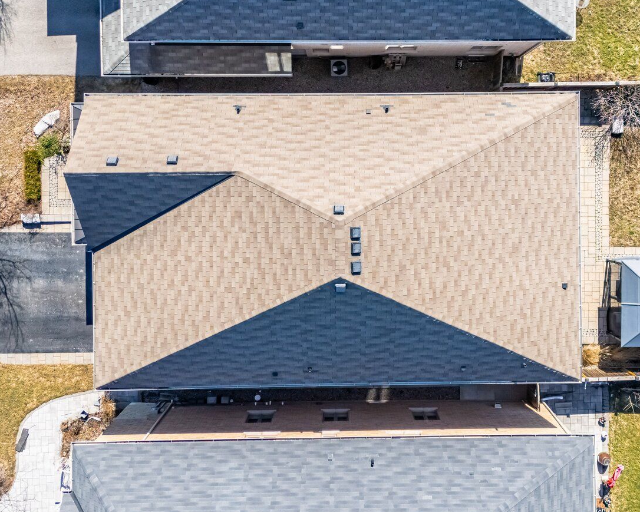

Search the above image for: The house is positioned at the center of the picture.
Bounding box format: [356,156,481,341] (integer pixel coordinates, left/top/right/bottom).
[62,88,585,394]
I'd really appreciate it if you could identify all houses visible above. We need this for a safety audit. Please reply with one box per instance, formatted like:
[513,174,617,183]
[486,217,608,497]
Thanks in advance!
[57,390,599,512]
[97,0,580,77]
[62,88,585,394]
